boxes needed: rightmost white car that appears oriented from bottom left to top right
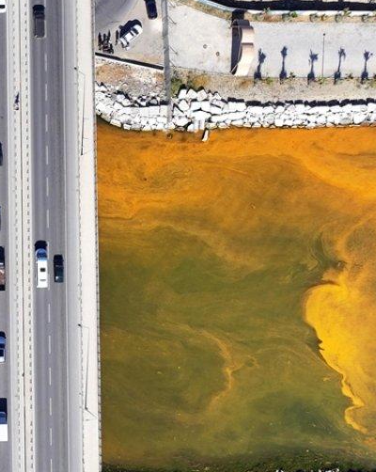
[119,25,142,46]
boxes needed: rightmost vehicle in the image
[145,0,157,18]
